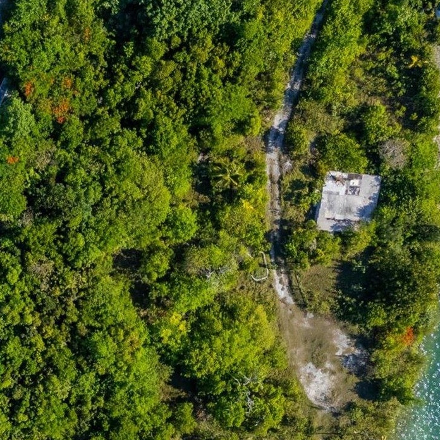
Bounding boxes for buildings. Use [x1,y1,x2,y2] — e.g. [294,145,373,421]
[311,170,382,232]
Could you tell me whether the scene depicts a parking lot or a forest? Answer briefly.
forest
